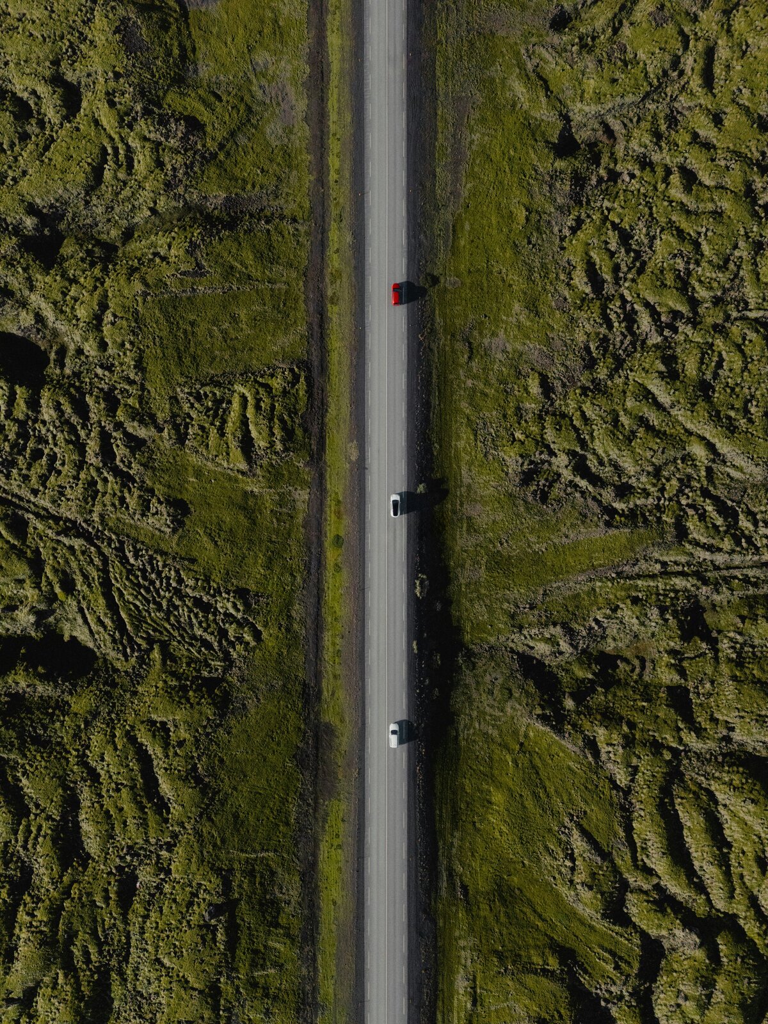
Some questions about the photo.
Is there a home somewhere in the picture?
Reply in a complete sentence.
No, there is no home in the image.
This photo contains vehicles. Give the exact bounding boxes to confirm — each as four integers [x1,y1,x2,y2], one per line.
[389,724,400,749]
[392,282,401,305]
[390,494,400,517]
